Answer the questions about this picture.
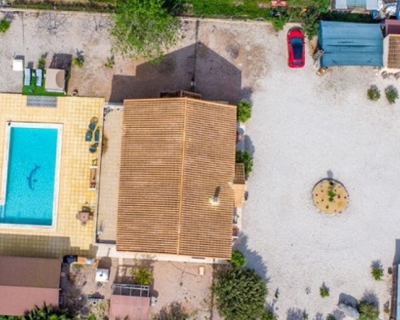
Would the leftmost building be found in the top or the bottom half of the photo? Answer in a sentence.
The leftmost building sits in the bottom half of the picture.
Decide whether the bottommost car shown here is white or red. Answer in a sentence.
The color of the bottommost car is red.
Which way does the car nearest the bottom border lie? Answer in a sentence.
In this picture, the car nearest the bottom border is oriented up and down.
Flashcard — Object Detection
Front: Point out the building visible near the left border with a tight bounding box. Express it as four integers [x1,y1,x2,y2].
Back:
[0,257,62,315]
